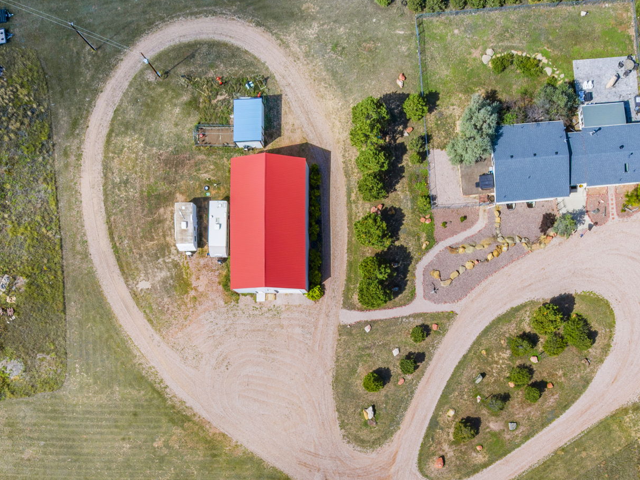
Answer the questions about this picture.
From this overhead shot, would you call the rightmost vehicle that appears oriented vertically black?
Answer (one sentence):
No, from above the rightmost vehicle that appears oriented vertically looks white.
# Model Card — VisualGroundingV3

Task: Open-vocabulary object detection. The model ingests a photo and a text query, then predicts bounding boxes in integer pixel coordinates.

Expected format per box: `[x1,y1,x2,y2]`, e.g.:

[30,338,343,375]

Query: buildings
[230,152,308,294]
[233,99,265,148]
[490,102,640,207]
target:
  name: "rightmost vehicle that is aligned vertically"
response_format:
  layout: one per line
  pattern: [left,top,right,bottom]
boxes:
[209,201,230,269]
